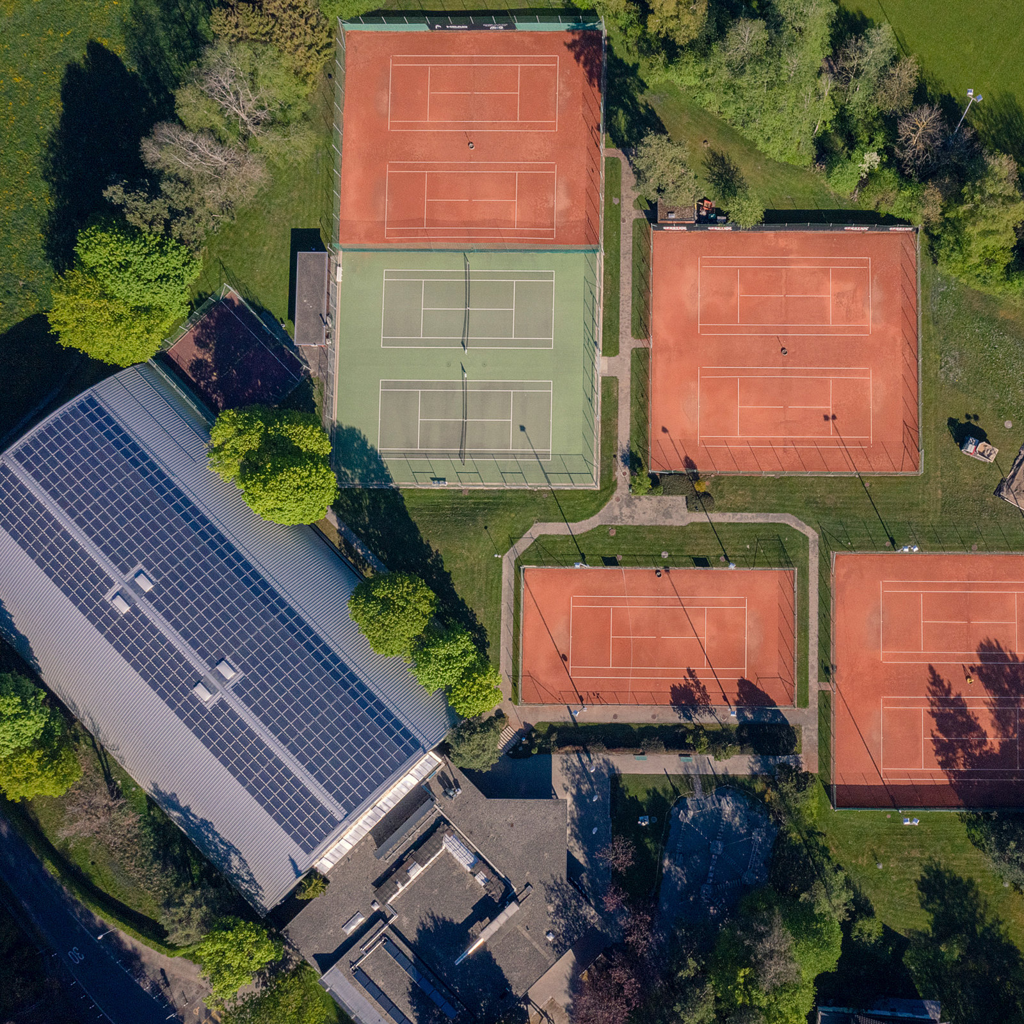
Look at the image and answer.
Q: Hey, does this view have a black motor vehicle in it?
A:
No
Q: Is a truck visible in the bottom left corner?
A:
No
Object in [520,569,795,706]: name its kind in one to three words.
tennis court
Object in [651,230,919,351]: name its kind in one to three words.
tennis court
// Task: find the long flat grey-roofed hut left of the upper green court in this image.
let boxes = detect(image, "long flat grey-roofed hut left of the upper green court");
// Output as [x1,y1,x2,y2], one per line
[294,251,333,347]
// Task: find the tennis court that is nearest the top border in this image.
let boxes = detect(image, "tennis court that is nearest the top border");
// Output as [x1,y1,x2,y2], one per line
[342,30,603,147]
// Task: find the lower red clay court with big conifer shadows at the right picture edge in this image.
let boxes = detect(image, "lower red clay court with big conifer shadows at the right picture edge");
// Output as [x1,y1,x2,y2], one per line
[833,680,1024,810]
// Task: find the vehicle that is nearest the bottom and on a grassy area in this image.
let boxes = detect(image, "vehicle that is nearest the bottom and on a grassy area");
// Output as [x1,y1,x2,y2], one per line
[961,435,999,461]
